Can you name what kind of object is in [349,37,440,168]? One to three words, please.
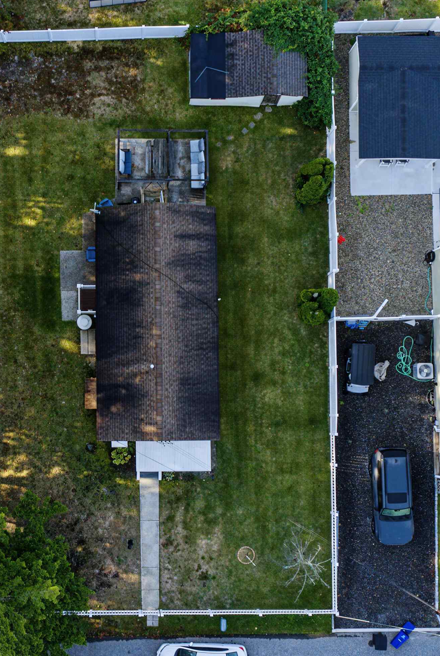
building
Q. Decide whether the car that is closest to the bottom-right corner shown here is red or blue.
blue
